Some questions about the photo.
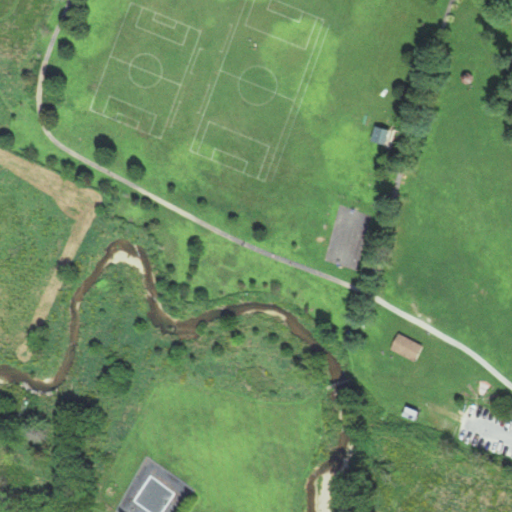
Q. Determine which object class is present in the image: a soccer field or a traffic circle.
soccer field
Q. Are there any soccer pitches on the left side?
Yes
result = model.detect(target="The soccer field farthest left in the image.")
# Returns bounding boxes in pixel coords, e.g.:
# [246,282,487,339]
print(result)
[90,2,203,139]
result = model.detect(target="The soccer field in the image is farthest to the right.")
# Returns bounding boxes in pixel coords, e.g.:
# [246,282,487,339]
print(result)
[190,0,329,182]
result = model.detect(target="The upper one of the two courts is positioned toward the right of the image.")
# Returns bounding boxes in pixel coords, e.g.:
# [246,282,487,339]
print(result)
[326,206,367,270]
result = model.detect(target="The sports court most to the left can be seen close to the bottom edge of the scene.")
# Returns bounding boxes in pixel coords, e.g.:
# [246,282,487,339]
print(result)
[116,456,196,512]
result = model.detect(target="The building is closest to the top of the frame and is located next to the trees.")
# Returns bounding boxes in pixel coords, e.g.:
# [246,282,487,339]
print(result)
[372,126,398,146]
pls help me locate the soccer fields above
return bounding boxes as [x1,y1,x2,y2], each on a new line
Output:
[90,2,203,139]
[190,0,329,182]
